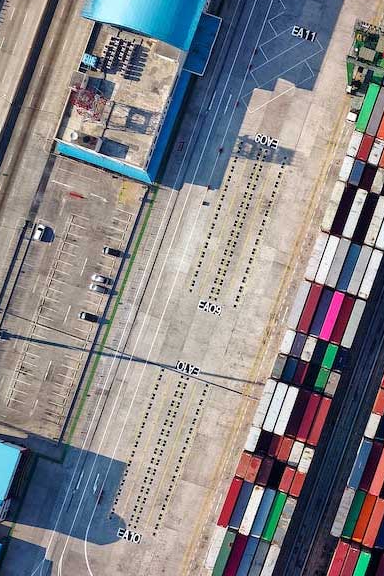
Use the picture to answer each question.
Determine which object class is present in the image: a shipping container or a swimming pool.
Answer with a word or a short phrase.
shipping container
